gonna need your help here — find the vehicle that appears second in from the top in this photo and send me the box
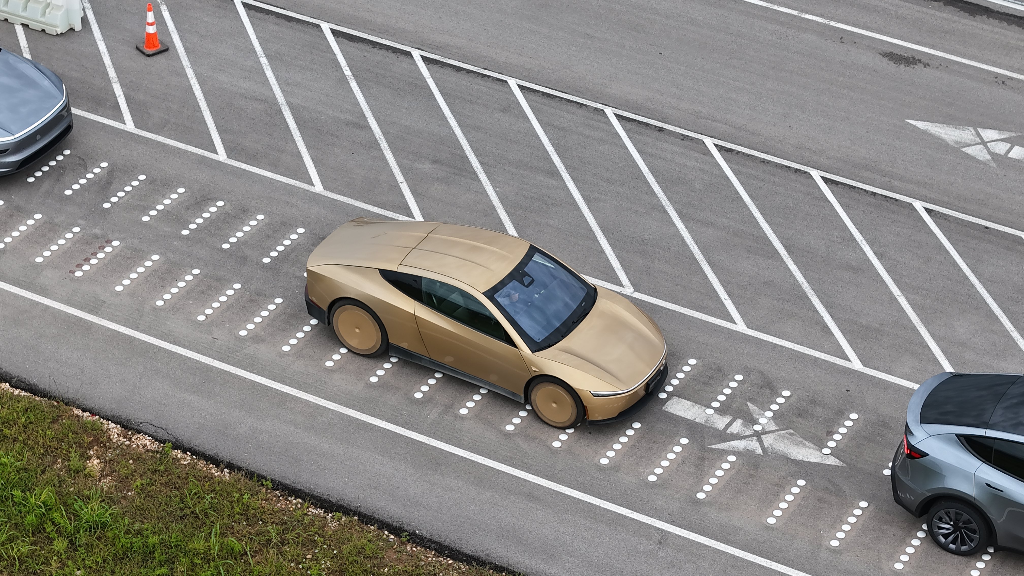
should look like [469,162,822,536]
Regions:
[307,214,672,427]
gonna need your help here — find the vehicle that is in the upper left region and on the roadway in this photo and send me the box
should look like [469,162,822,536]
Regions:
[0,44,72,178]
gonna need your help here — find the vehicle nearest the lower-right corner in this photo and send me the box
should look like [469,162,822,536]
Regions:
[891,369,1024,560]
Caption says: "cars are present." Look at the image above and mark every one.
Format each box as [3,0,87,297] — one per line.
[0,44,72,178]
[307,214,672,427]
[891,369,1024,560]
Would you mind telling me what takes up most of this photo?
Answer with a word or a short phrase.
paved ground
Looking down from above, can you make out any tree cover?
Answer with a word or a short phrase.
No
